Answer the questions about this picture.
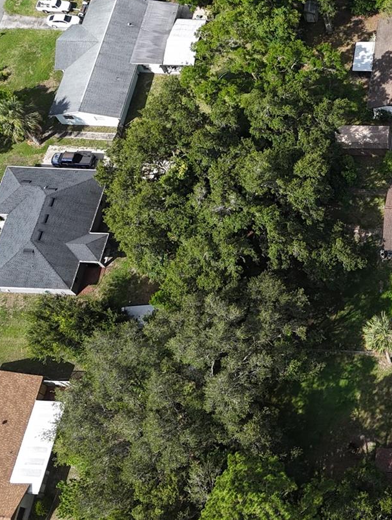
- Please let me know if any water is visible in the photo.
No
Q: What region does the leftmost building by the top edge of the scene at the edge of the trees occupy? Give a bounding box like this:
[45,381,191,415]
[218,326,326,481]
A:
[46,0,204,124]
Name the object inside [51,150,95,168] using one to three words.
vehicle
